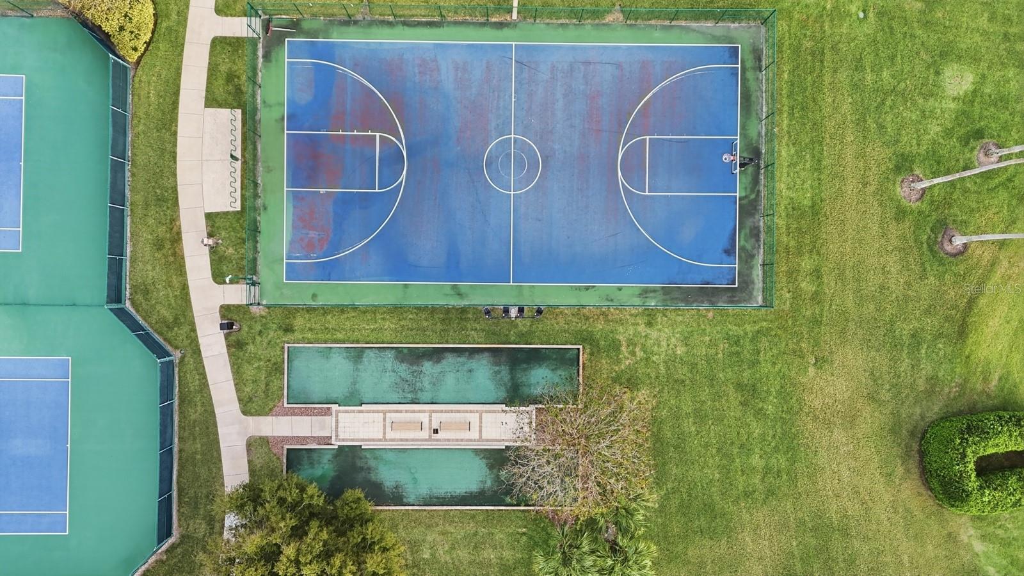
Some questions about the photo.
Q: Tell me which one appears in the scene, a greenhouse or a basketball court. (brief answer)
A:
basketball court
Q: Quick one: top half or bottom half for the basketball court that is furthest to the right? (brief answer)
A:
top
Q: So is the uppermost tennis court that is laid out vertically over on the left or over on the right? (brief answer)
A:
left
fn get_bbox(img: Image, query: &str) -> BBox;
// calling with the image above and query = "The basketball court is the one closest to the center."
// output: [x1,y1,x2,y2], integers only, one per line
[255,16,766,309]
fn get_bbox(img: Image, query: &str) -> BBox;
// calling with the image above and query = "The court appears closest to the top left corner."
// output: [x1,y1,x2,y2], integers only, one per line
[0,18,129,304]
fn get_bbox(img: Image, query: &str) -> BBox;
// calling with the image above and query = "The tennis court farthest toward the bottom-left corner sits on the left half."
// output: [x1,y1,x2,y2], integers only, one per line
[0,305,173,576]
